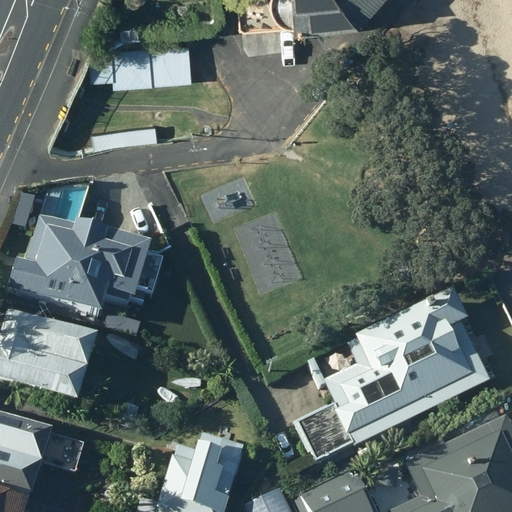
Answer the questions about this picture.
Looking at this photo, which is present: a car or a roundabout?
car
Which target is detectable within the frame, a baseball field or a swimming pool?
swimming pool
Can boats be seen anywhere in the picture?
Yes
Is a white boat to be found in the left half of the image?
Yes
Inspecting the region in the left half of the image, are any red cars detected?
No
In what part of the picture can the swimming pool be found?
left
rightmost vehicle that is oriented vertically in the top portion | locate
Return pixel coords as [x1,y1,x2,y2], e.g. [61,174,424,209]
[280,32,294,66]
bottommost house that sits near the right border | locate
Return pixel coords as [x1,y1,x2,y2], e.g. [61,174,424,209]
[390,414,512,512]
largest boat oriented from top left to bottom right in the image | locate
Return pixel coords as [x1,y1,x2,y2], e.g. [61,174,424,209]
[108,334,140,362]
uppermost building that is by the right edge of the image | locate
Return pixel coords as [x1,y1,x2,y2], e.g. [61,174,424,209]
[325,286,497,445]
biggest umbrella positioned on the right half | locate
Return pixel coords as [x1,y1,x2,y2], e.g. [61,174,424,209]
[328,352,346,371]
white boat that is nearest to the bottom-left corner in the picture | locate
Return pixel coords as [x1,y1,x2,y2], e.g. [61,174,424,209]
[158,386,178,404]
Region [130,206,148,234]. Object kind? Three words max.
car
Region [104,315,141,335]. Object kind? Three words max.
shed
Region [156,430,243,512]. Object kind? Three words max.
house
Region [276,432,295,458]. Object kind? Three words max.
car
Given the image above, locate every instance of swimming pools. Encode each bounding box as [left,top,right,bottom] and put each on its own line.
[40,183,90,221]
